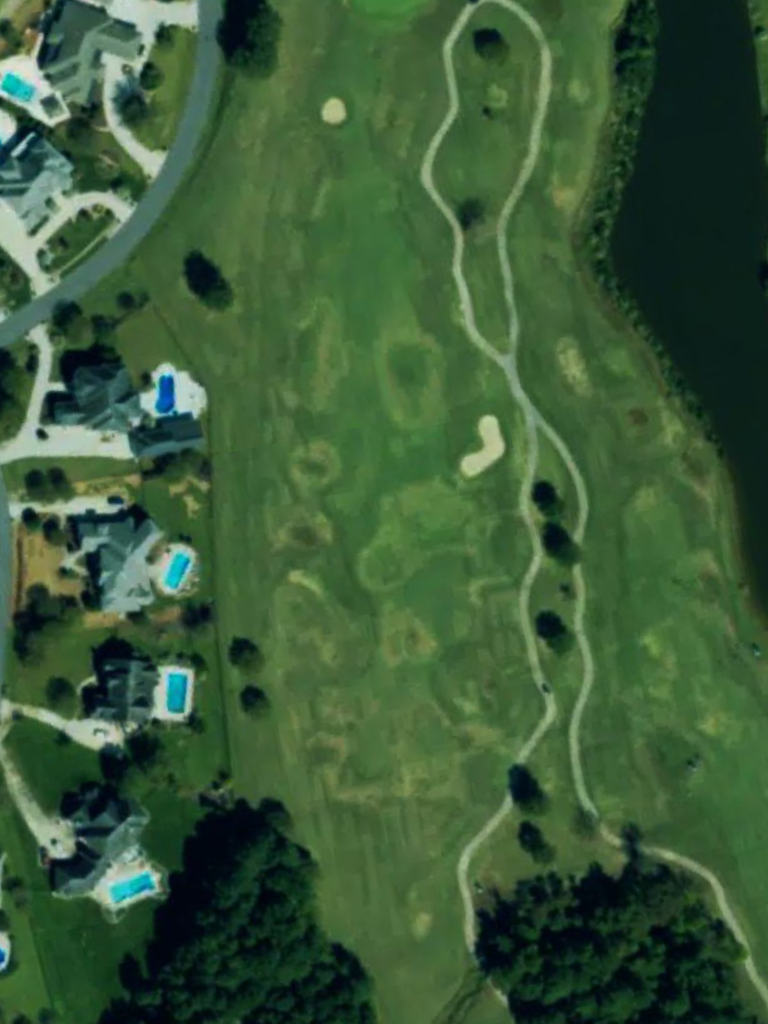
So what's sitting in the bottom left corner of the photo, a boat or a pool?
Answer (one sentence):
The one visible in the bottom left corner of the photo is a pool.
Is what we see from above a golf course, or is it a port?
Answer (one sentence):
This looks like a golf course.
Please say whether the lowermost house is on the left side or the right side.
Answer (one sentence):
The lowermost house sits on the left side.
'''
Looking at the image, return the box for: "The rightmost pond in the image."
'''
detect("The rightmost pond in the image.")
[611,0,768,631]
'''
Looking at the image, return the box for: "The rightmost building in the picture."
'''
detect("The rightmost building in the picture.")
[125,413,205,459]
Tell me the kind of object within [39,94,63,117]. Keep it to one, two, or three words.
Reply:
building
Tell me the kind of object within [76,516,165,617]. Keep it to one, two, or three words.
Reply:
house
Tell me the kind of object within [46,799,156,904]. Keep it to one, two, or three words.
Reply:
house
